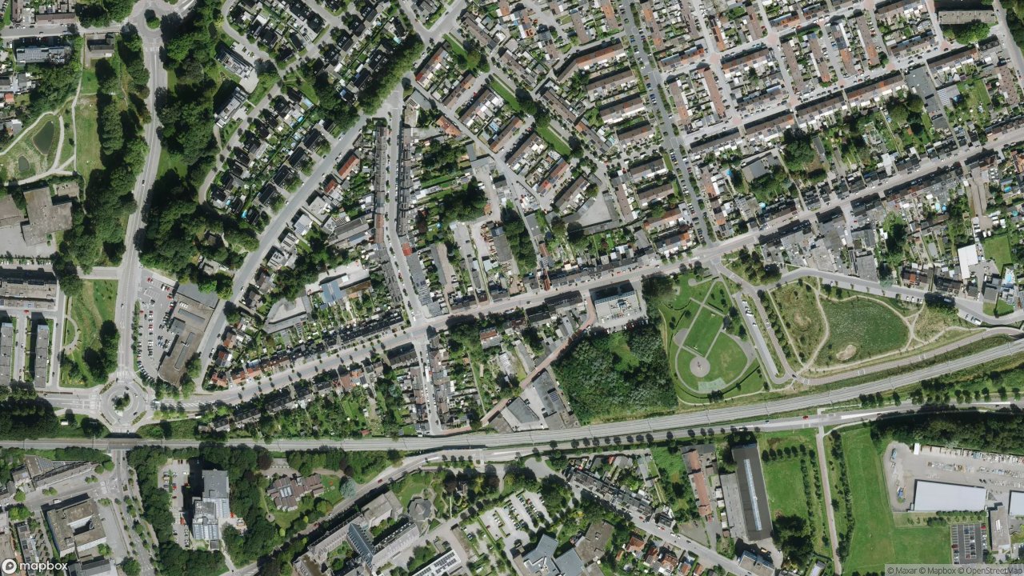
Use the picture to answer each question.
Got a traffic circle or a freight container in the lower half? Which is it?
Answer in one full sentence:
There is a traffic circle in the lower half.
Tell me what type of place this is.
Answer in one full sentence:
This image shows a residential area.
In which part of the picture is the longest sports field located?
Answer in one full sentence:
The longest sports field appears toward the bottom right of the photo.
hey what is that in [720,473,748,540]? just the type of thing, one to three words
shed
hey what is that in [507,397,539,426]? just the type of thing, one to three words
building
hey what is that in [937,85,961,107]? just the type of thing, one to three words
building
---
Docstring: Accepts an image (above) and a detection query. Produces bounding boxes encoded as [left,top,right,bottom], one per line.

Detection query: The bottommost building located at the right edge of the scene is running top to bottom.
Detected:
[990,506,1010,550]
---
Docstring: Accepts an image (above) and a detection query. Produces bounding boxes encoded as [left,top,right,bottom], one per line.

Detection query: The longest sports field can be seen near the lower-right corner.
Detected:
[842,429,894,573]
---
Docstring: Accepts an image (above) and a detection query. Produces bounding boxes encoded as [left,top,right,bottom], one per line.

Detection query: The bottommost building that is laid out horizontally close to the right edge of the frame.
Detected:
[914,481,986,511]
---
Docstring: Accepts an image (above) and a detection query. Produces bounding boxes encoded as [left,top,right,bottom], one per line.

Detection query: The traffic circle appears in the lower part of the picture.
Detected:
[95,377,148,431]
